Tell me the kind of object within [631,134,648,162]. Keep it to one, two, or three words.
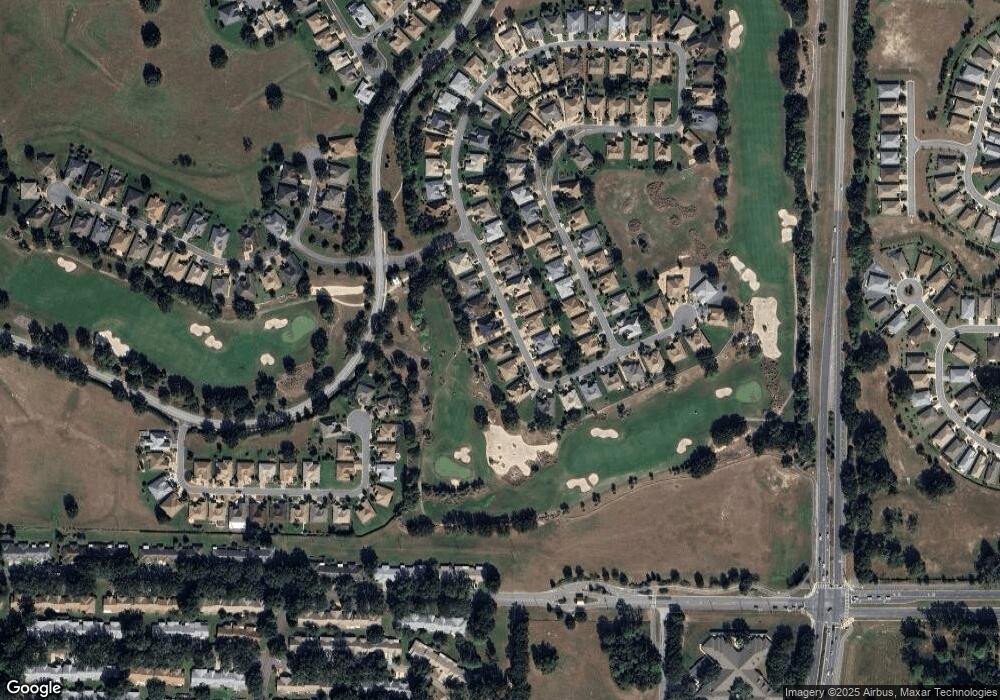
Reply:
house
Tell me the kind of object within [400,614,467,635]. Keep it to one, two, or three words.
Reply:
building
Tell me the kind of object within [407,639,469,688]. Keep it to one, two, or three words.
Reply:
building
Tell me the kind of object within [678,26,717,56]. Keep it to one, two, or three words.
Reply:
house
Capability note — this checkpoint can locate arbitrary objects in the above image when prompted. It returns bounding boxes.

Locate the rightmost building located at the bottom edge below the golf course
[692,630,778,700]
